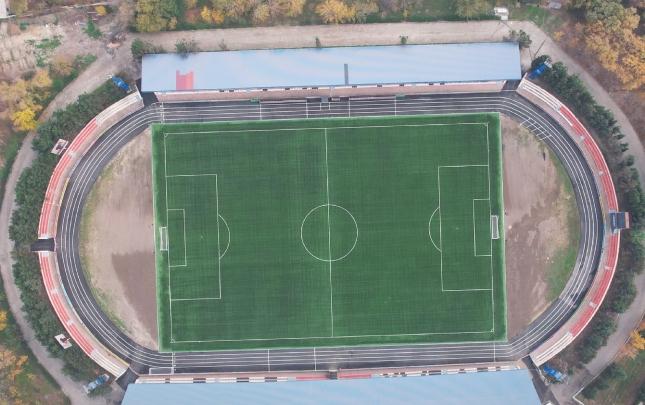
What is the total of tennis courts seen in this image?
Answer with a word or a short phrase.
zero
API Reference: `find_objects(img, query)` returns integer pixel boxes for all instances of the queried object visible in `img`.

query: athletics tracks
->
[62,90,597,375]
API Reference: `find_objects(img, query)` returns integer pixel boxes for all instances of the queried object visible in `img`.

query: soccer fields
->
[152,112,508,353]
